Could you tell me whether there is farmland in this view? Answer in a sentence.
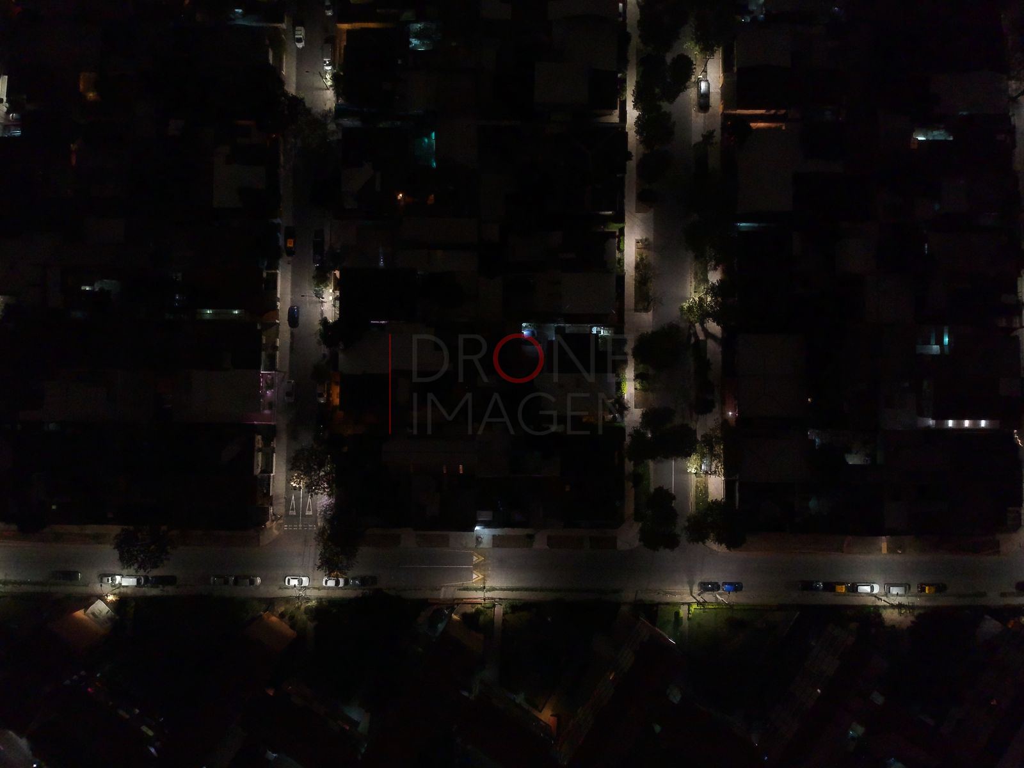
No, the scene doesn't show any farmland.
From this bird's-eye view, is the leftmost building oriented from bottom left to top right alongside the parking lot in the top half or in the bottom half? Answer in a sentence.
It is in the bottom half that the leftmost building oriented from bottom left to top right alongside the parking lot appears.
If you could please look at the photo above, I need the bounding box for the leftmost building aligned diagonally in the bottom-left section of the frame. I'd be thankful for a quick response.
[0,605,112,743]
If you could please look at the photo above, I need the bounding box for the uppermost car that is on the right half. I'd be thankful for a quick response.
[698,79,712,108]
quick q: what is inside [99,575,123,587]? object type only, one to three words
vehicle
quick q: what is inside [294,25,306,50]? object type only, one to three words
vehicle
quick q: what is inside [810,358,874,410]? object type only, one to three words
shed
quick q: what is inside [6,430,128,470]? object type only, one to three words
house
